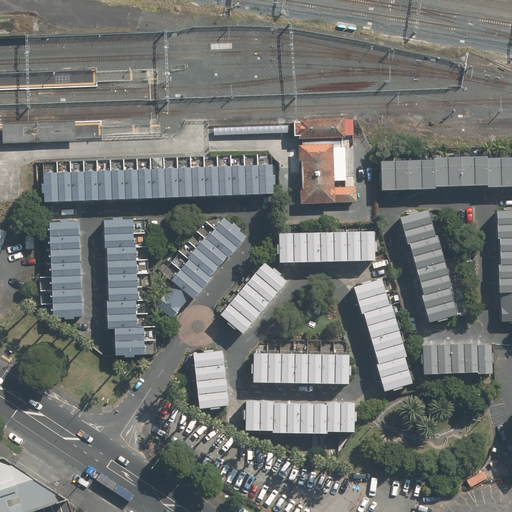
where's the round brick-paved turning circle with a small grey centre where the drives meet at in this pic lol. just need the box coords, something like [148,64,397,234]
[180,306,214,346]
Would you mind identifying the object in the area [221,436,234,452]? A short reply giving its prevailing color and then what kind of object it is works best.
white vehicle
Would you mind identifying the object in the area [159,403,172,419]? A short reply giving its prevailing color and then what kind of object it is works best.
red vehicle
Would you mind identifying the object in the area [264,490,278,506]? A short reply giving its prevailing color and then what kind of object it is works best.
white vehicle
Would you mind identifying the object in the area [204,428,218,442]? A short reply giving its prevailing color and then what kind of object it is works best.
white car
